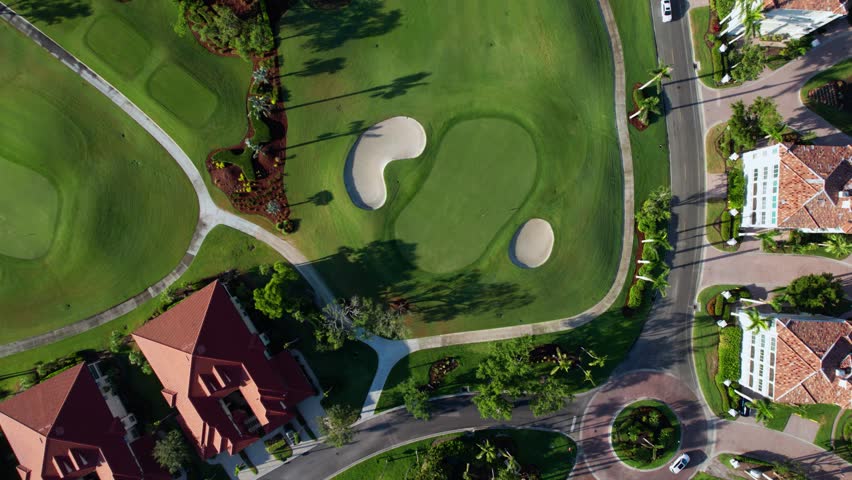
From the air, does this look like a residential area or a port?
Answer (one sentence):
It's a residential area.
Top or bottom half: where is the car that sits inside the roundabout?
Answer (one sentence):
Seen from above, the car that sits inside the roundabout lies in the bottom half of the view.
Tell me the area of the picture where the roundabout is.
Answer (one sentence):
The roundabout appears toward the bottom right of the photo.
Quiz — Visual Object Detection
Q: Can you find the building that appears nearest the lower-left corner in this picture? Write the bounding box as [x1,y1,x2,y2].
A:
[0,352,190,480]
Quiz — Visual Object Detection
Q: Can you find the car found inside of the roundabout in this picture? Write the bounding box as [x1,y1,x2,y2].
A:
[667,452,691,474]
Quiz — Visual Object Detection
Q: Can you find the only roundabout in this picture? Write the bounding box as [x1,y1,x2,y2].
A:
[582,369,708,480]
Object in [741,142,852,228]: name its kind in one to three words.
house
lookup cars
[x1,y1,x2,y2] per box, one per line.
[736,393,750,419]
[667,452,691,474]
[660,0,674,23]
